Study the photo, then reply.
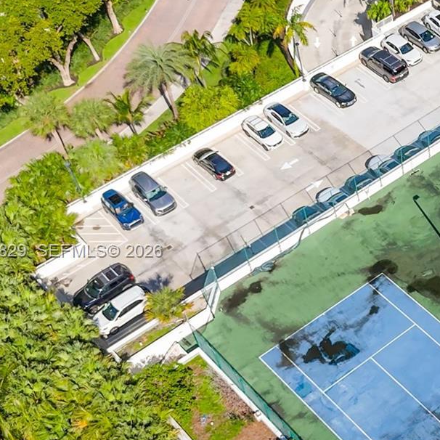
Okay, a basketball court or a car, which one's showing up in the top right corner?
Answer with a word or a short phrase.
car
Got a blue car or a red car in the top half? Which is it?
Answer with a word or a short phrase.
blue car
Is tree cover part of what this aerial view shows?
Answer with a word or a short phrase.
Yes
